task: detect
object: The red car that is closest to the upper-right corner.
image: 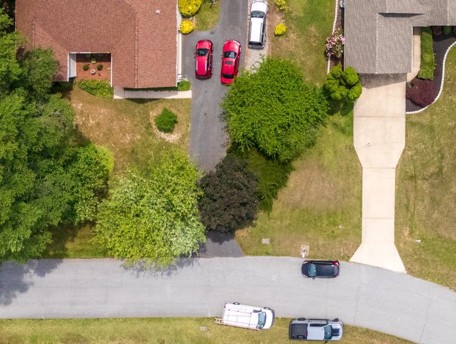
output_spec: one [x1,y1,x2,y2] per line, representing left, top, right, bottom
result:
[220,39,241,85]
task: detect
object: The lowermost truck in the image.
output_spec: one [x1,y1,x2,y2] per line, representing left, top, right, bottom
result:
[287,318,342,344]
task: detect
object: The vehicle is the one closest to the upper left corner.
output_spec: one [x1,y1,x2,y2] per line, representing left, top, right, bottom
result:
[193,38,216,79]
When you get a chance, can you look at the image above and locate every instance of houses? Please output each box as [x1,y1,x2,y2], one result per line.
[15,0,182,88]
[343,0,456,74]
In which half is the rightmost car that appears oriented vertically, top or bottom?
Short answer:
top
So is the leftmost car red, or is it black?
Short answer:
red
